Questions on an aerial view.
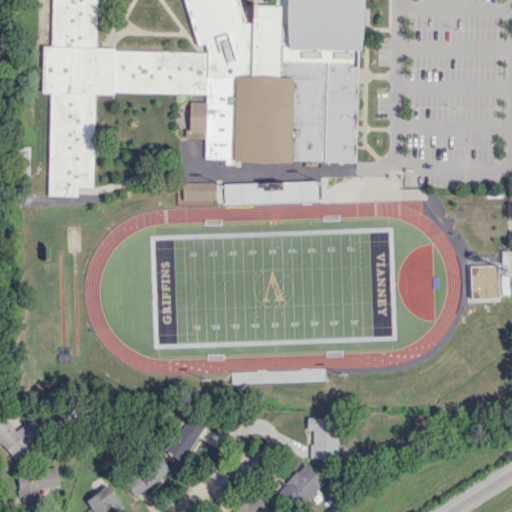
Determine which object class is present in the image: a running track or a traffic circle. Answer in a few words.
running track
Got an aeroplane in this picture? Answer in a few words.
No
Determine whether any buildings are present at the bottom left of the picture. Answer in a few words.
Yes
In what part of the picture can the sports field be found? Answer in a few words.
center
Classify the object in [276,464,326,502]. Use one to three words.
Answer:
house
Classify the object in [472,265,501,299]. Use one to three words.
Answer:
building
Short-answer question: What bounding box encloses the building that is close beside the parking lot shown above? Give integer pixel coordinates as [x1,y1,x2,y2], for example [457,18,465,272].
[42,0,366,198]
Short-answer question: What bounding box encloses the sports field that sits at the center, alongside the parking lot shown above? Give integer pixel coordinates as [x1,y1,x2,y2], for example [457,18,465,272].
[102,218,446,360]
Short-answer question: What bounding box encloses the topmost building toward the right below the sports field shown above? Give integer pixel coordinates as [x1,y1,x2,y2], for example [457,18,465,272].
[310,418,339,460]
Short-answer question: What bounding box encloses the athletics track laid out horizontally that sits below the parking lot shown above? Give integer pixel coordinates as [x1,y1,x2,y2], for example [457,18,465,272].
[86,201,462,375]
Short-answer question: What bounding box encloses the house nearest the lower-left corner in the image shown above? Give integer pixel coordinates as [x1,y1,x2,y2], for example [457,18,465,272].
[18,467,61,500]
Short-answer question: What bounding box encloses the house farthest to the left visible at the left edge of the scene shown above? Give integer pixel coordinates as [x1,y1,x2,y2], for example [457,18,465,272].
[0,418,28,461]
